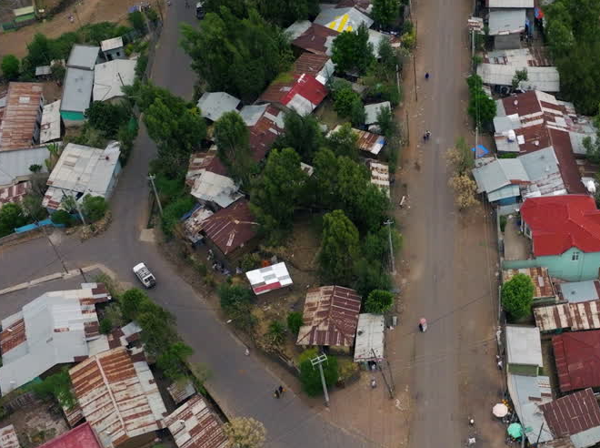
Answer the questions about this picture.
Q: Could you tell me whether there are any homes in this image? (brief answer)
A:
Yes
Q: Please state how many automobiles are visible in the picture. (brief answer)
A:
1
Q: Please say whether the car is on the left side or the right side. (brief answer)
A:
left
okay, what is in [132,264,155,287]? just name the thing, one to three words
car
